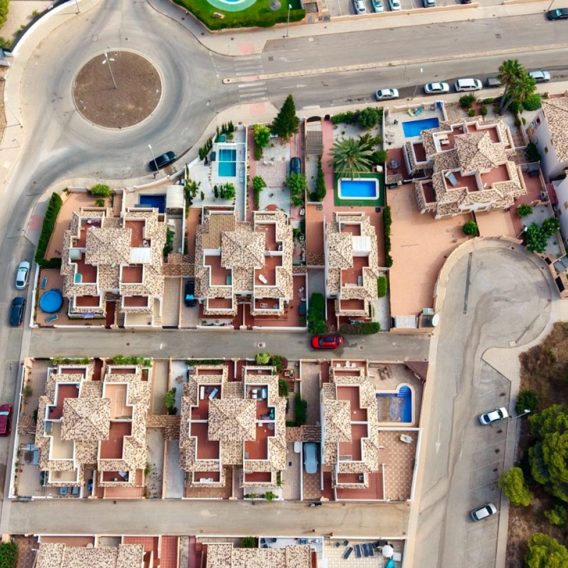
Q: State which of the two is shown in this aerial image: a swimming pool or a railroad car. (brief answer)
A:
swimming pool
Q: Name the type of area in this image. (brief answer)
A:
residential area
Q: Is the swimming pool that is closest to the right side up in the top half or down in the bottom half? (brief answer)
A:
top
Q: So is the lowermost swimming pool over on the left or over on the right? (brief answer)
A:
right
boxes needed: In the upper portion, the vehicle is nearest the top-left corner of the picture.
[149,152,176,173]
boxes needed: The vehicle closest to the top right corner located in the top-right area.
[547,7,568,20]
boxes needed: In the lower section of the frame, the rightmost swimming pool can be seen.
[374,383,415,425]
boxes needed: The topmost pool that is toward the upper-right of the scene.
[401,117,440,138]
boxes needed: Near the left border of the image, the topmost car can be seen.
[15,263,30,288]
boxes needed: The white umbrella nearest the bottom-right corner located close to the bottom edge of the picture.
[381,544,393,558]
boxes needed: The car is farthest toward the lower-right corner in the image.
[469,503,497,523]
